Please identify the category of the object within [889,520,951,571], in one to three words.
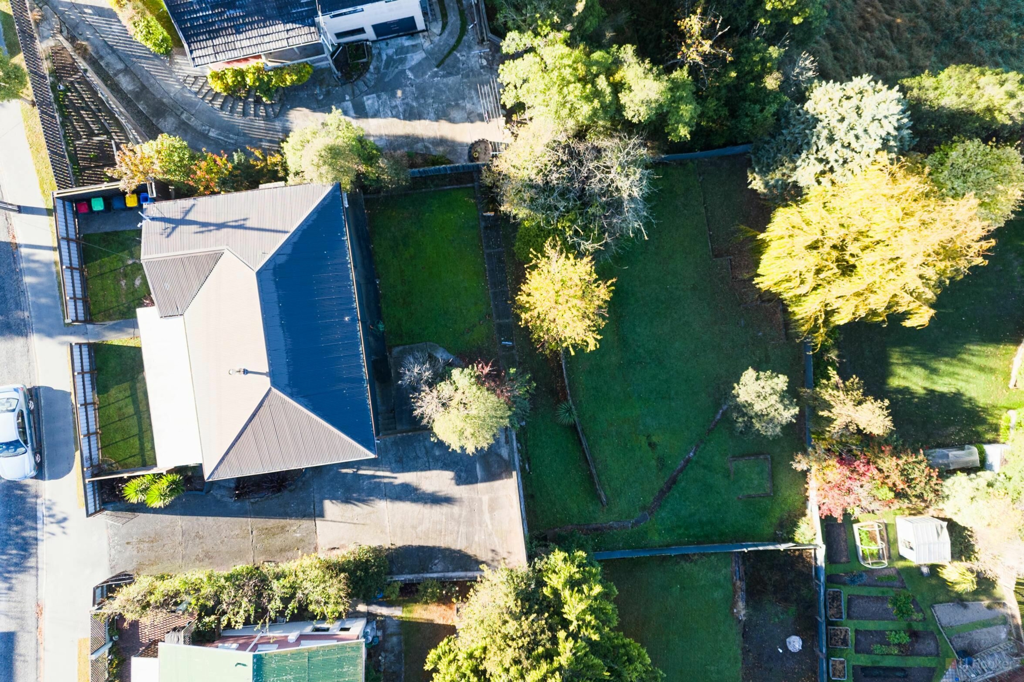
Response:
greenhouse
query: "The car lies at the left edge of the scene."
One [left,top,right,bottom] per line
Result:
[0,386,39,481]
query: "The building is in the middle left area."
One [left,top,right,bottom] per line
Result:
[129,180,382,484]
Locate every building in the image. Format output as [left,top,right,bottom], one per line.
[889,520,951,571]
[164,0,428,84]
[131,616,370,682]
[129,180,382,484]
